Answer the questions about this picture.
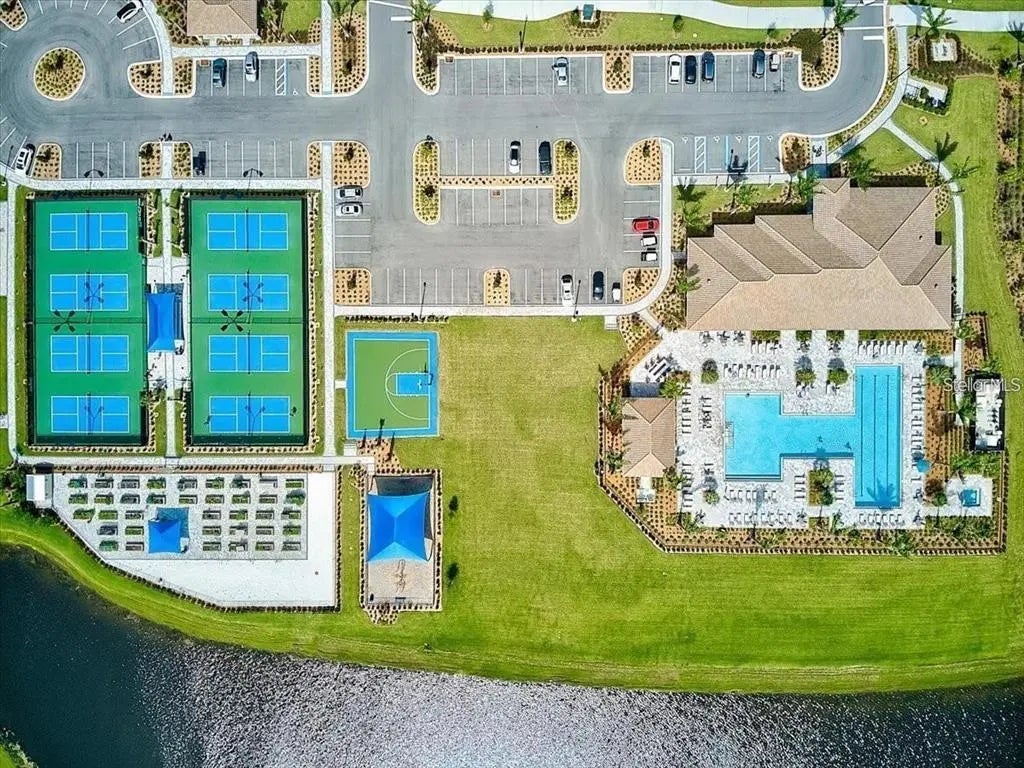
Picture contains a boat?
No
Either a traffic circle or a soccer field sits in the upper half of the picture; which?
traffic circle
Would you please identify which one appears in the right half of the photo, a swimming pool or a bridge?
swimming pool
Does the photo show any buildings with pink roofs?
No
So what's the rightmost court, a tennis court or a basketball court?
basketball court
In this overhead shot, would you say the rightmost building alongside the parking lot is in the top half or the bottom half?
top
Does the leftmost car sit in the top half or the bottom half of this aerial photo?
top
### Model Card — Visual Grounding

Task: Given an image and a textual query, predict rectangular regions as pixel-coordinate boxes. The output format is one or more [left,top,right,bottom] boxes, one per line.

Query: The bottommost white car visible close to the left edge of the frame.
[13,144,37,172]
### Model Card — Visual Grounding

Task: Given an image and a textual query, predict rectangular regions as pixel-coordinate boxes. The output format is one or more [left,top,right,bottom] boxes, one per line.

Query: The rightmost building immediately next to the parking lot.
[686,178,952,330]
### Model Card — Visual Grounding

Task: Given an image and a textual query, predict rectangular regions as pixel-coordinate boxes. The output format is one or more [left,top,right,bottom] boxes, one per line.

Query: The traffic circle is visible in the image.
[33,46,85,100]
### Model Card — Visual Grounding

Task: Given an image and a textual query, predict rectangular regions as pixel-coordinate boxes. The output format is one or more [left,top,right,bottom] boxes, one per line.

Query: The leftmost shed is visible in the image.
[24,475,58,501]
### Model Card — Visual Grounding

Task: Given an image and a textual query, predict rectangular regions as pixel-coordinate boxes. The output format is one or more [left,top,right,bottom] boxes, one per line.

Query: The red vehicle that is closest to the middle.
[631,220,659,232]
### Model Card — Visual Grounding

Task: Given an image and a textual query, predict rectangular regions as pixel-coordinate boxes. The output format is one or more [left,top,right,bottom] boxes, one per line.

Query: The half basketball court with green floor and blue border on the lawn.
[345,331,439,439]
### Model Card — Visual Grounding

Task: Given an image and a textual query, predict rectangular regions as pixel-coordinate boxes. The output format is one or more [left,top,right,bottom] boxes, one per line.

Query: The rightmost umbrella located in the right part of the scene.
[912,458,929,472]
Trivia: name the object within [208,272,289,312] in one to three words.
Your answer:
sports court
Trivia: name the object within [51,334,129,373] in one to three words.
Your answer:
sports court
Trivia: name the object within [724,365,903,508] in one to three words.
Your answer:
swimming pool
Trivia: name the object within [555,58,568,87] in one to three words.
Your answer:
vehicle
